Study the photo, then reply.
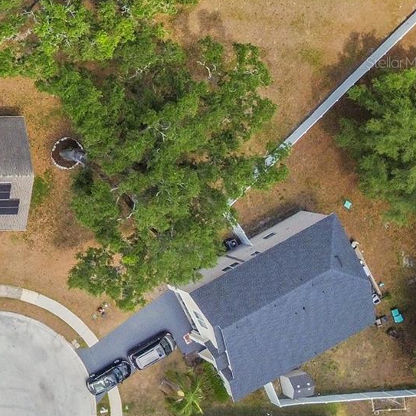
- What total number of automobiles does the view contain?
2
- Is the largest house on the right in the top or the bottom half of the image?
bottom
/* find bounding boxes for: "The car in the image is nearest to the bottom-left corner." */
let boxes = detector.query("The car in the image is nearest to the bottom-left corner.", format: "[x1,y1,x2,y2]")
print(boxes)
[83,360,132,396]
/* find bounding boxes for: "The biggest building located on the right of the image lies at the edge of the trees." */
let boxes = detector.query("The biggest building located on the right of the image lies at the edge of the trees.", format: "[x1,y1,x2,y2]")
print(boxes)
[174,212,376,403]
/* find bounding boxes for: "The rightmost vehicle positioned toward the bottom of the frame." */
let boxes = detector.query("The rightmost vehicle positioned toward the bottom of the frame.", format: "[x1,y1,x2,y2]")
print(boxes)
[123,332,175,370]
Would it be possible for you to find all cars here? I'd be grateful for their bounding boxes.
[123,332,175,370]
[83,360,132,396]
